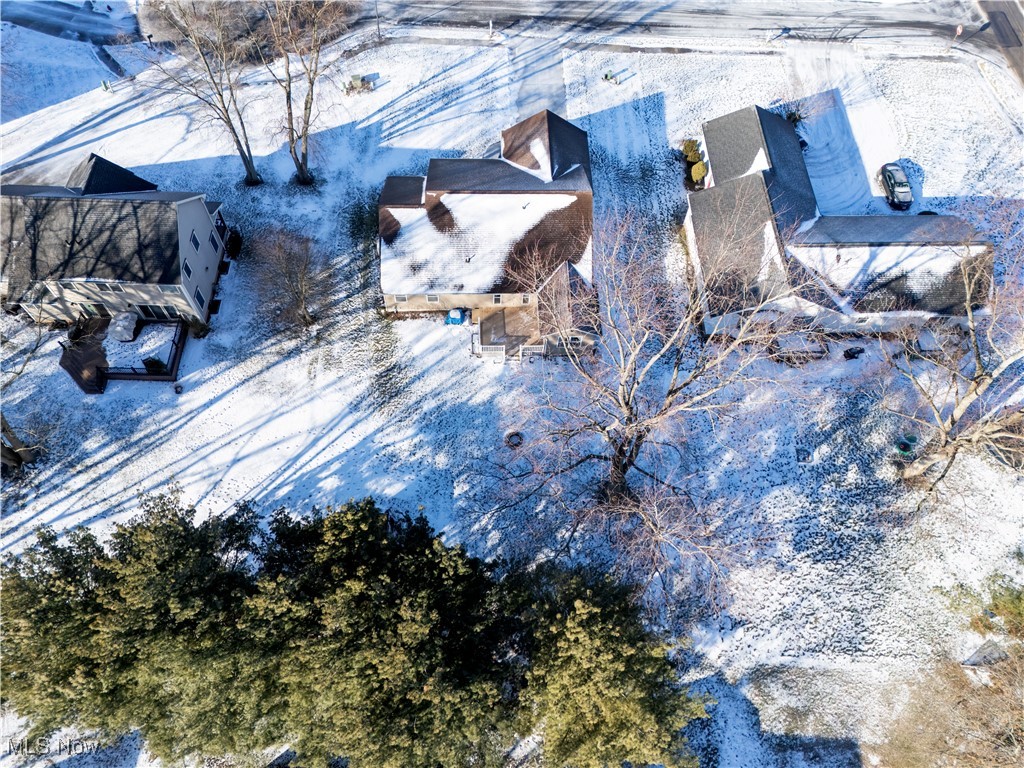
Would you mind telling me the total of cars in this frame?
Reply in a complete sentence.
There is 1 car in the image.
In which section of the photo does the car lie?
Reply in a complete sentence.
Look in the top right portion of the view to spot the car.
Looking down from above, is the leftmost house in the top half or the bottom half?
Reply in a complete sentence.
You can find the leftmost house in the top half.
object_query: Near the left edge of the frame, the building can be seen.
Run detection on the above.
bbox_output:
[0,157,232,324]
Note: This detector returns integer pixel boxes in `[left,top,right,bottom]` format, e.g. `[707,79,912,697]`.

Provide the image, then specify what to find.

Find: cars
[877,166,914,210]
